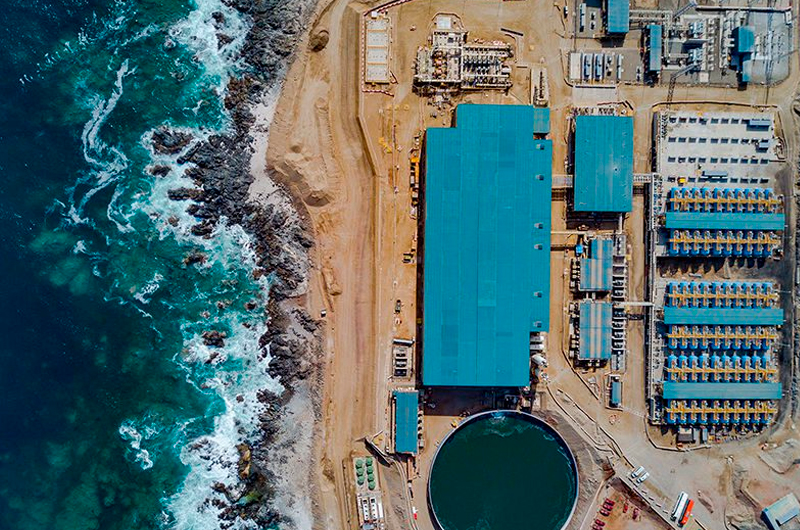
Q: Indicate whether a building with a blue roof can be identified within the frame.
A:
Yes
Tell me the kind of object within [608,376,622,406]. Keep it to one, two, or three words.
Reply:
shed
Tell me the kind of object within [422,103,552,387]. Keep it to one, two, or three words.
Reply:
building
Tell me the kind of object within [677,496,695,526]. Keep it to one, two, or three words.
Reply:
vehicle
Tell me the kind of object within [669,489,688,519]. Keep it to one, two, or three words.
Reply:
vehicle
